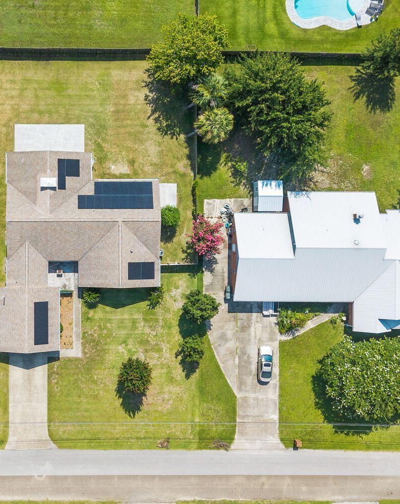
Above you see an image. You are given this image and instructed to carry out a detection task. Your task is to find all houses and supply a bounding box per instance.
[0,150,161,354]
[231,191,400,334]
